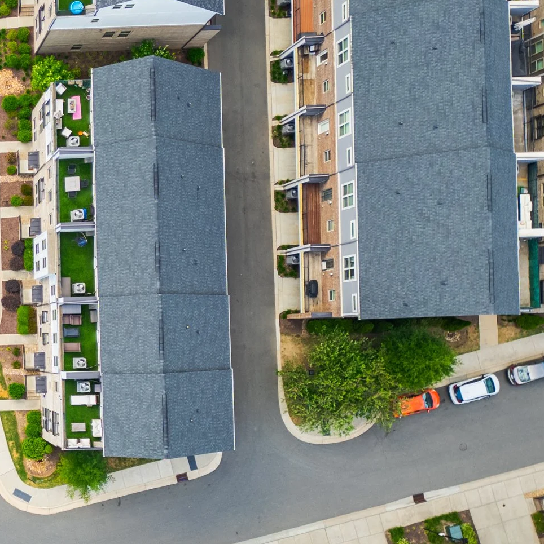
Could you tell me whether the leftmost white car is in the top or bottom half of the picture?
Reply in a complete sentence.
The leftmost white car sits in the bottom half of the picture.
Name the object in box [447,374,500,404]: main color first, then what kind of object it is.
white car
